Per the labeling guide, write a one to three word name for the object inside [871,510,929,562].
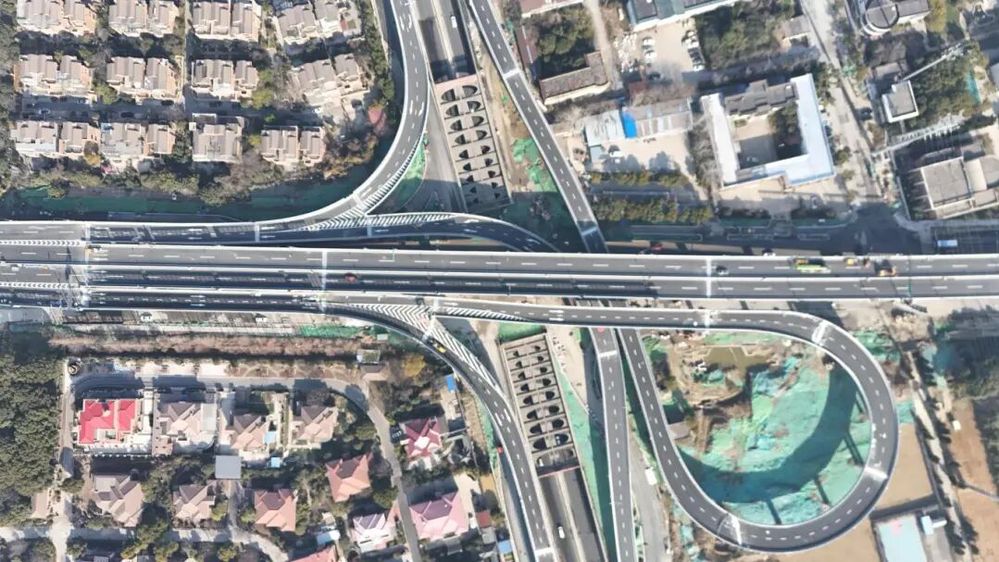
shed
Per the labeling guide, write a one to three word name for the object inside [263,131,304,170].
house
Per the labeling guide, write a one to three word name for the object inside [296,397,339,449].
house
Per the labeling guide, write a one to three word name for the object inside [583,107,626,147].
building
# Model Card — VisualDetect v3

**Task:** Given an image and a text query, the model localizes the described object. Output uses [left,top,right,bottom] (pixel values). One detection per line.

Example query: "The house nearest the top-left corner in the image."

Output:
[19,0,75,40]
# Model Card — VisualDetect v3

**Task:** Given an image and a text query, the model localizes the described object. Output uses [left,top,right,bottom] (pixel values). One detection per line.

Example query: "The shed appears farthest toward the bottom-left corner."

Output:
[30,488,52,518]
